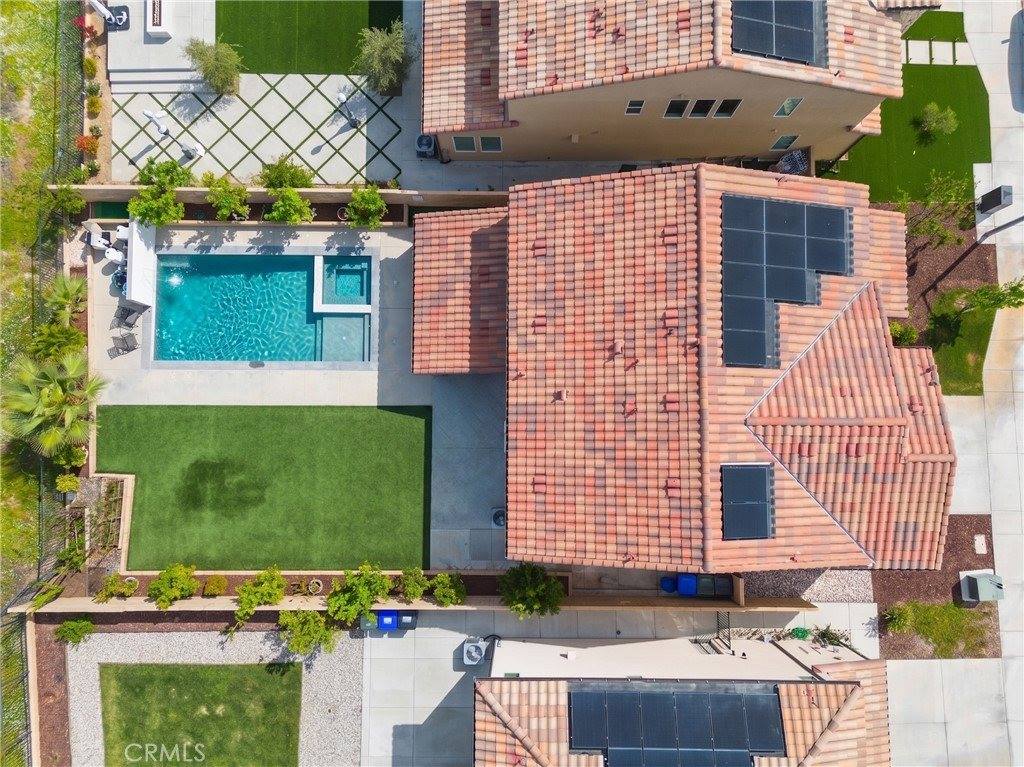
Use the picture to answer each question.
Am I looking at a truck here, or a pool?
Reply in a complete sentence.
This aerial view contains a pool.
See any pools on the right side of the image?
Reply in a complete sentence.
No, no pool can be made out on the right side of the image.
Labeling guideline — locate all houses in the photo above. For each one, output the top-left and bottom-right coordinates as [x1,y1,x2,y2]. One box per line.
[419,0,946,161]
[473,640,894,767]
[410,163,963,571]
